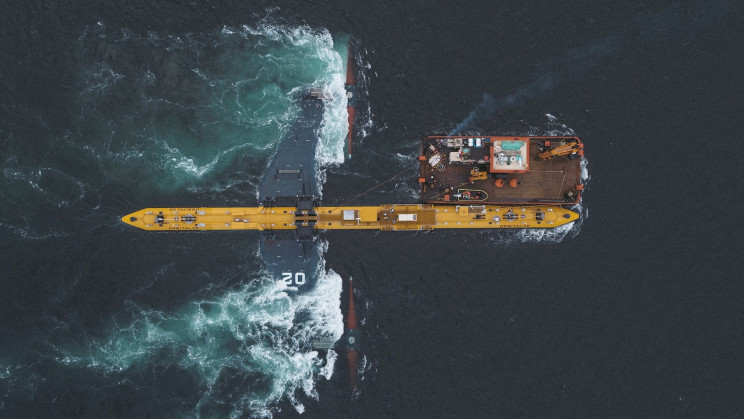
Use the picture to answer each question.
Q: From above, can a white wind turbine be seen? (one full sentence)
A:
No, no white wind turbine is visible in the scene.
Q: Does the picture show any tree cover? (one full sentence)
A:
No, no tree cover is visible.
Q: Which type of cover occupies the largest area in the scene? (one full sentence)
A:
The largest share of the image is taken up by water.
